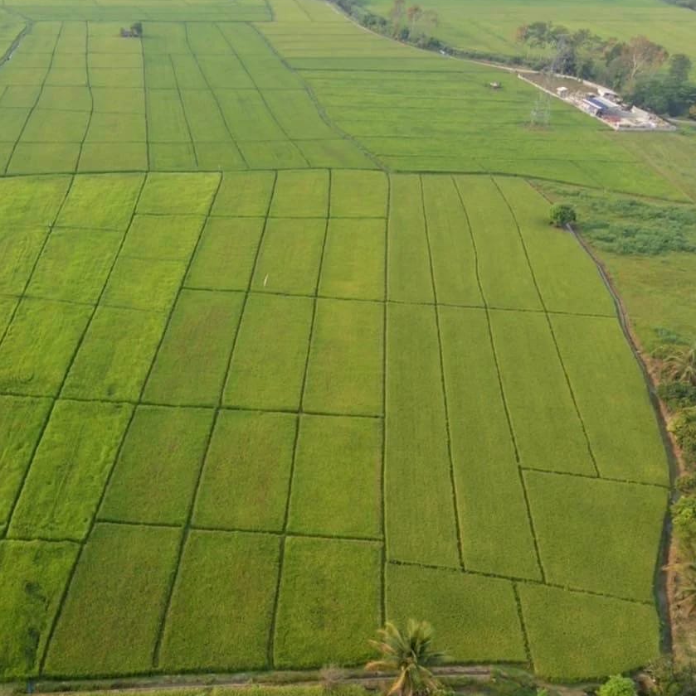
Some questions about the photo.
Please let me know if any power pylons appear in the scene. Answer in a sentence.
Yes, the picture does show a power pylon.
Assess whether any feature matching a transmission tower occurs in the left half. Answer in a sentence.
No, no transmission tower can be made out in the left half.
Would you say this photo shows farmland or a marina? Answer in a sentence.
What you see here is farmland.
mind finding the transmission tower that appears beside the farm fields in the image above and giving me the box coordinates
[529,31,570,127]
